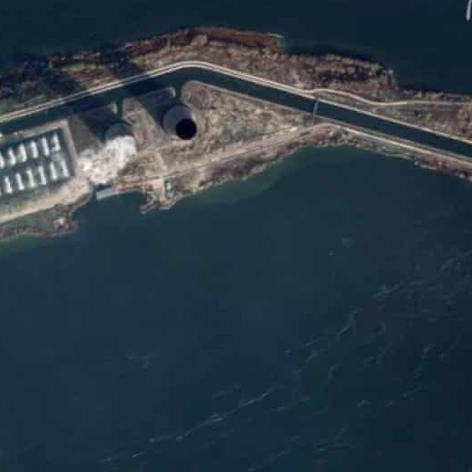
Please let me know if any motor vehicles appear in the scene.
No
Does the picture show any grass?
No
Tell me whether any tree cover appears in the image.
No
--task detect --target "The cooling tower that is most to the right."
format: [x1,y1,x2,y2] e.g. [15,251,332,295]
[161,102,197,140]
